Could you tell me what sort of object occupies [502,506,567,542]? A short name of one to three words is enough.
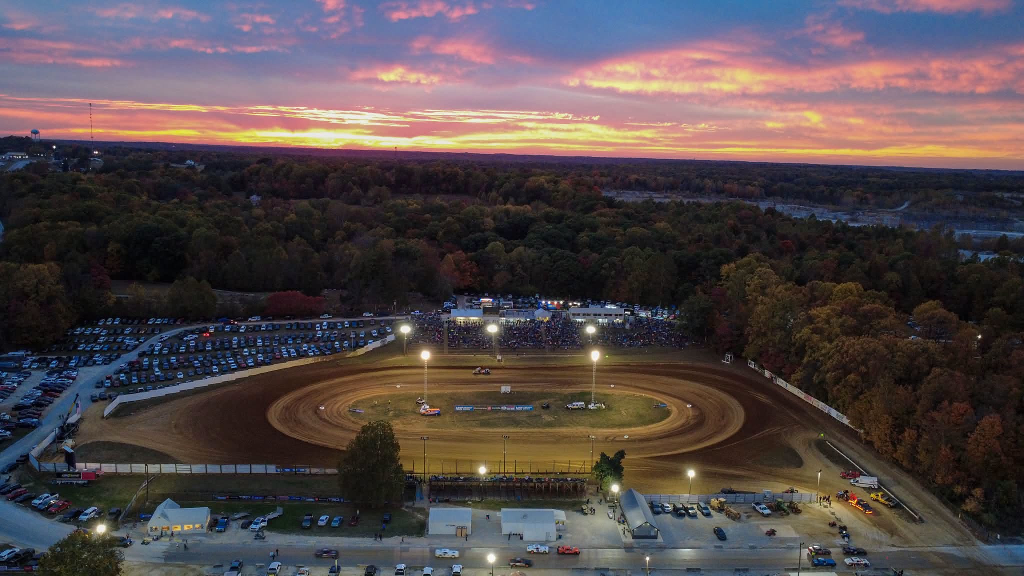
shed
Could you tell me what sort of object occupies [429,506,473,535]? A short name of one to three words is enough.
shed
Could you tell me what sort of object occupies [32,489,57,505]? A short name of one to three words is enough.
vehicle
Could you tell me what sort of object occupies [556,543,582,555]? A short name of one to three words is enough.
vehicle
